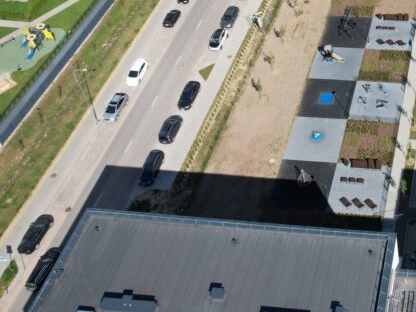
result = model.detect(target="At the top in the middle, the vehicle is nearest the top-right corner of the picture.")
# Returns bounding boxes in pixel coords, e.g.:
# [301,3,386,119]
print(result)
[220,7,240,28]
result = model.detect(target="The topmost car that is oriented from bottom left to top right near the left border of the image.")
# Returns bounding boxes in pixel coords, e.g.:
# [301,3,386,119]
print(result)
[18,215,55,255]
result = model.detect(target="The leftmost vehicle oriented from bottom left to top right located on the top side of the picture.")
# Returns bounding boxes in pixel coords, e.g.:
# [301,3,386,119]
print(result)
[102,94,130,123]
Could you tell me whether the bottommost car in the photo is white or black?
black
